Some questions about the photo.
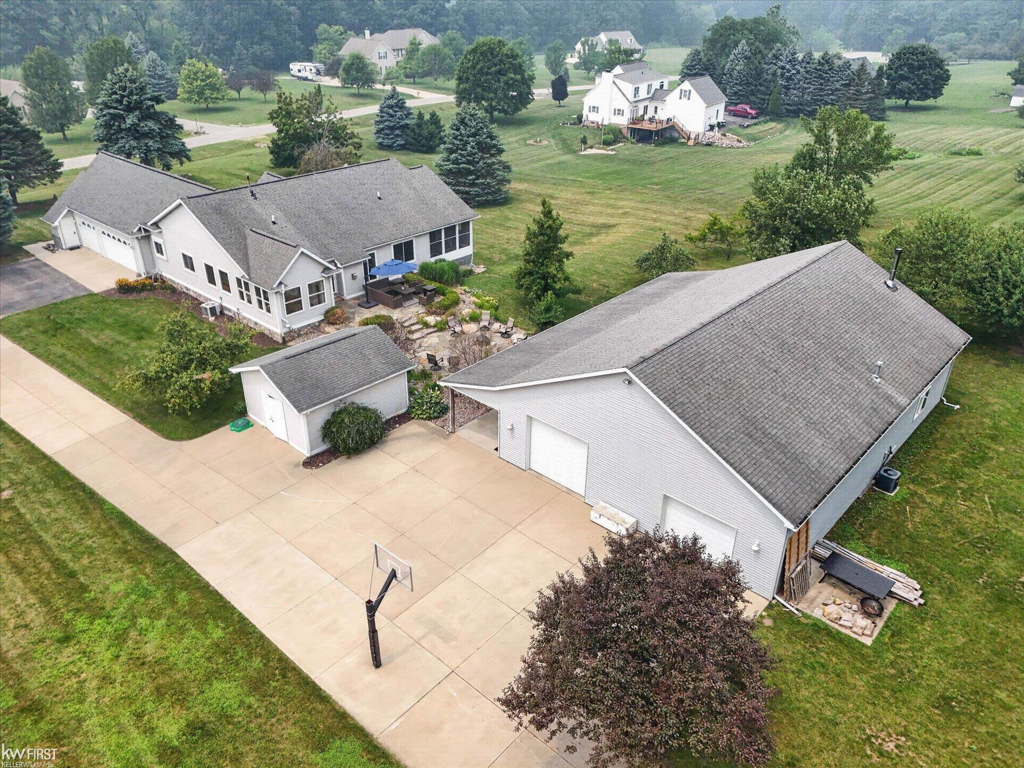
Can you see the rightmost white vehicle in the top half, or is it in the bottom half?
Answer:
top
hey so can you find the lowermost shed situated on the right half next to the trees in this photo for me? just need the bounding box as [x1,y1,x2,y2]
[443,236,968,617]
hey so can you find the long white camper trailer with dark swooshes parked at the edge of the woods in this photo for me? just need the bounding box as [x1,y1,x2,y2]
[284,60,327,82]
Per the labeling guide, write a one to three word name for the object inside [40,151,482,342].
house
